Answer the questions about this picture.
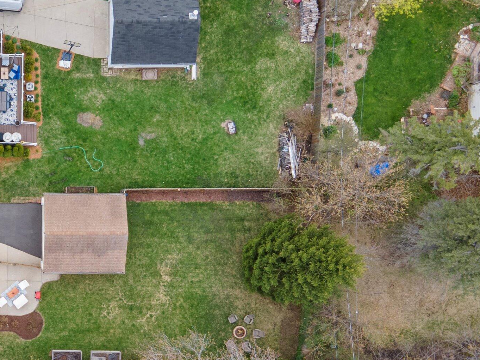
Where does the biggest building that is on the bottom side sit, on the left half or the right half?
left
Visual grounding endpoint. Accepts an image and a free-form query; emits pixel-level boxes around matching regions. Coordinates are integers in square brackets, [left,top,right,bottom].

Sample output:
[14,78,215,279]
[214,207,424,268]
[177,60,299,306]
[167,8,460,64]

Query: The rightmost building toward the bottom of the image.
[41,192,128,274]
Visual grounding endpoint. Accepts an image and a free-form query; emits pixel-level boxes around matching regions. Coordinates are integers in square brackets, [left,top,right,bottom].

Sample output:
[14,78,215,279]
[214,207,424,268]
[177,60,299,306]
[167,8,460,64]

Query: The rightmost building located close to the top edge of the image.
[106,0,200,89]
